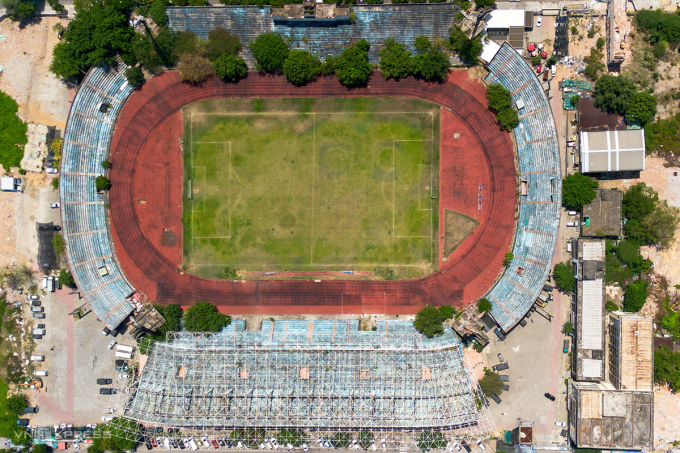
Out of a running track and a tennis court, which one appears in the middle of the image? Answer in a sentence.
The one visible in the middle of the image is a running track.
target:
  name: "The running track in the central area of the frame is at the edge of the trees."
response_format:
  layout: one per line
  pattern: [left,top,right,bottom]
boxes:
[109,70,518,315]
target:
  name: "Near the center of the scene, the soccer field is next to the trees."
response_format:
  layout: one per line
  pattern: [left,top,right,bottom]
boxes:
[183,99,440,280]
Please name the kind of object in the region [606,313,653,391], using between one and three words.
building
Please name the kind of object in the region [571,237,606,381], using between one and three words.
building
